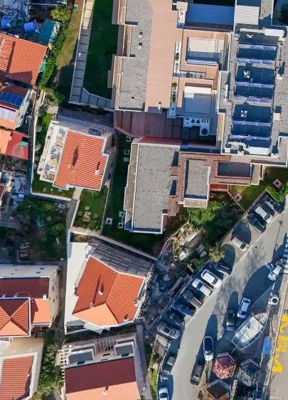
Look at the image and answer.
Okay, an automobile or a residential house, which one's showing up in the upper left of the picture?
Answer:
residential house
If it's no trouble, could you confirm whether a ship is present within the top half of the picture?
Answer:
No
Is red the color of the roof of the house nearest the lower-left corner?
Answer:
Yes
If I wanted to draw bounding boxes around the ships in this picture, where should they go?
[227,314,267,356]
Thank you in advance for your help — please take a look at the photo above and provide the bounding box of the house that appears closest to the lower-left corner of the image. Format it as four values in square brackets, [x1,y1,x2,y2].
[0,341,46,400]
